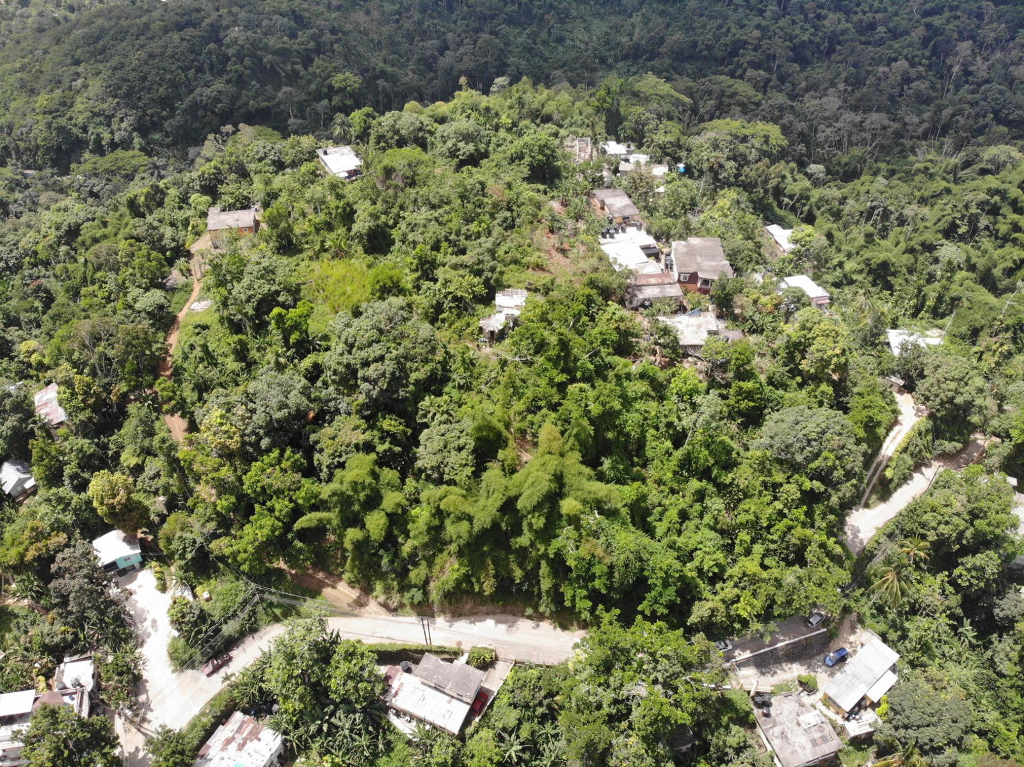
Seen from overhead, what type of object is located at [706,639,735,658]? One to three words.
car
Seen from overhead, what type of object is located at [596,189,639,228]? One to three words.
house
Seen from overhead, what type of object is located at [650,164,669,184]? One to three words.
house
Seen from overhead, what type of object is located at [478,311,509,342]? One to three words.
shed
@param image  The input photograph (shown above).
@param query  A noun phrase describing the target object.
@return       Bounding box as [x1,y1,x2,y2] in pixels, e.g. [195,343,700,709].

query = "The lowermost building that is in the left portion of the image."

[200,711,283,767]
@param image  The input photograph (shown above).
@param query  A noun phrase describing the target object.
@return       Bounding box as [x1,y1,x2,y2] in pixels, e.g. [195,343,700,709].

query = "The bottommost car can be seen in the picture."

[470,688,493,720]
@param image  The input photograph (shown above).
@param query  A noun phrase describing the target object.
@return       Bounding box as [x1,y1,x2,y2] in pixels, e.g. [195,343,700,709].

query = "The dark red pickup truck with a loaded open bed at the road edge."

[199,648,237,680]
